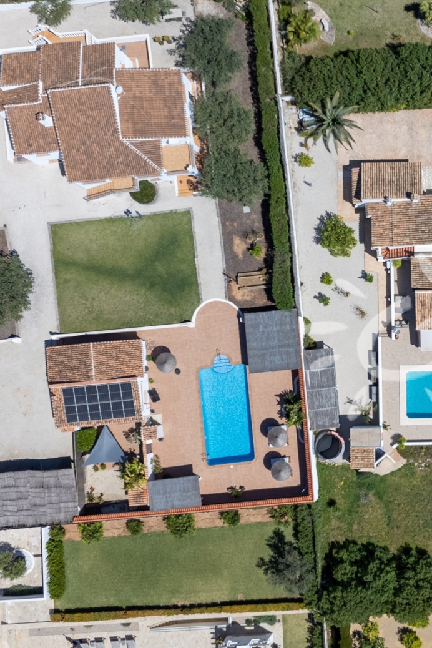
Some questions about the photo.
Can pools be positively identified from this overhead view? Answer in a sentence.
Yes, the frame does contain a pool.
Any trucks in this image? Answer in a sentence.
No, there appears to be no truck in this shot.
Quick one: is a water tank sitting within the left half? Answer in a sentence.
No, I see no water tank within the left half.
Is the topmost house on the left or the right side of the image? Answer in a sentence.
The topmost house sits on the left side.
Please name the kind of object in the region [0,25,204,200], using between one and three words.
house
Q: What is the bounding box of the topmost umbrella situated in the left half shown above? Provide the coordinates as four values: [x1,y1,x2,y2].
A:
[155,352,177,374]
